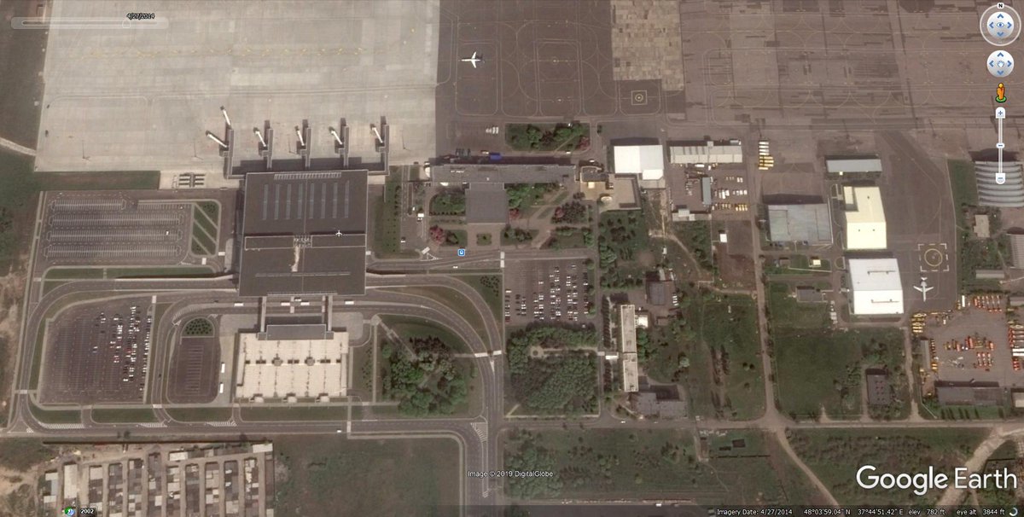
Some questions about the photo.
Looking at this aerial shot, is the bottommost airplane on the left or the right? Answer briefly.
right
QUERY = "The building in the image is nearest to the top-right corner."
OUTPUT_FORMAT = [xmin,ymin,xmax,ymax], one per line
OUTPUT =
[972,160,1022,209]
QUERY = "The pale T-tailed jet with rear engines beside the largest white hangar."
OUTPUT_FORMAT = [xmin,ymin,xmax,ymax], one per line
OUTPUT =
[914,279,934,303]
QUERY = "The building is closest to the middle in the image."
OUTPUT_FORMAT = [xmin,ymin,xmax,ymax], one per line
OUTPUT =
[463,183,509,224]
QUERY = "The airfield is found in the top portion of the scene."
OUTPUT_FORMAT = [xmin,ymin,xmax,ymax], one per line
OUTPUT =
[35,0,1024,331]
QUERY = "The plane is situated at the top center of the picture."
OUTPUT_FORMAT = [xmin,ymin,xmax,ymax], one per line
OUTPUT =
[462,53,484,69]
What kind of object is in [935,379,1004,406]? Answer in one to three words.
building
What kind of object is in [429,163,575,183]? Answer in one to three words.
building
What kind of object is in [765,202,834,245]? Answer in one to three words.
hangar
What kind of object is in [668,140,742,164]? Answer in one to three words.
shed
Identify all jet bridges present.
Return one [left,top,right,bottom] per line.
[205,131,228,149]
[254,127,267,148]
[370,123,384,145]
[294,126,306,148]
[220,106,232,128]
[328,126,343,147]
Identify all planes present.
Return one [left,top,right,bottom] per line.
[914,279,934,303]
[462,53,484,69]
